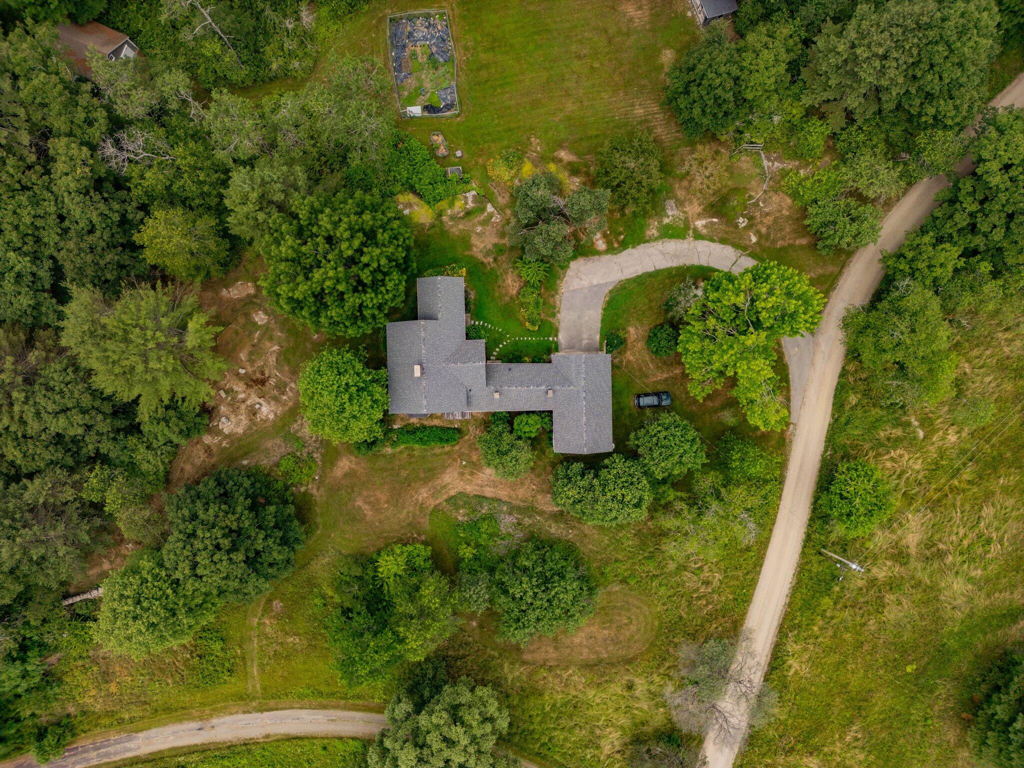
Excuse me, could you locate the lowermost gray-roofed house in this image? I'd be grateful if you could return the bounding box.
[388,275,618,455]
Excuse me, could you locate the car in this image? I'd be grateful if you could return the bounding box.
[633,390,671,408]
